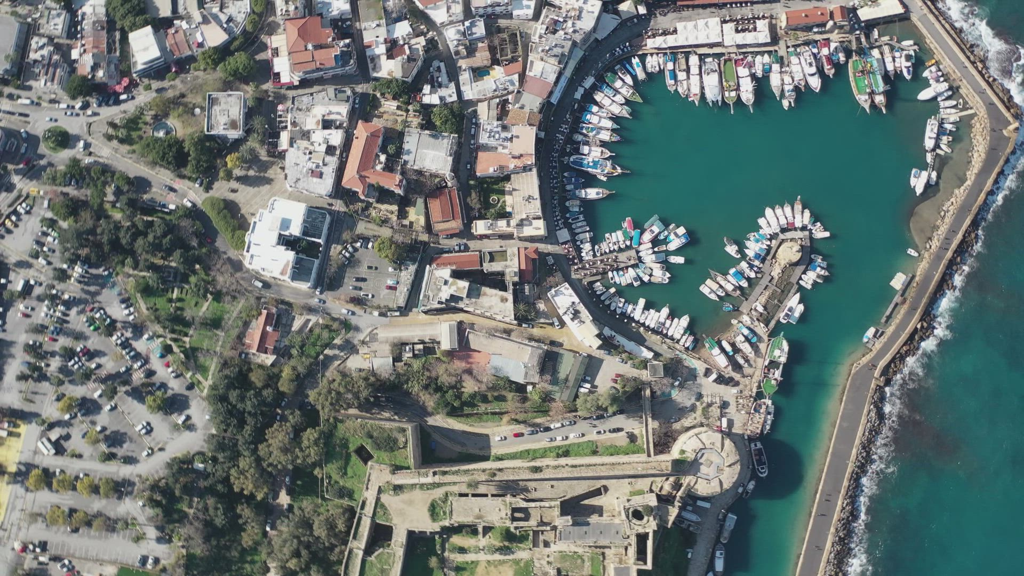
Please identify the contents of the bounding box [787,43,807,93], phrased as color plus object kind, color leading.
white boat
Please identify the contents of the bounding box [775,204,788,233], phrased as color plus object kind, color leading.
white boat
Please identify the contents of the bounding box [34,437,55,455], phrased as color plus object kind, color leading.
white vehicle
